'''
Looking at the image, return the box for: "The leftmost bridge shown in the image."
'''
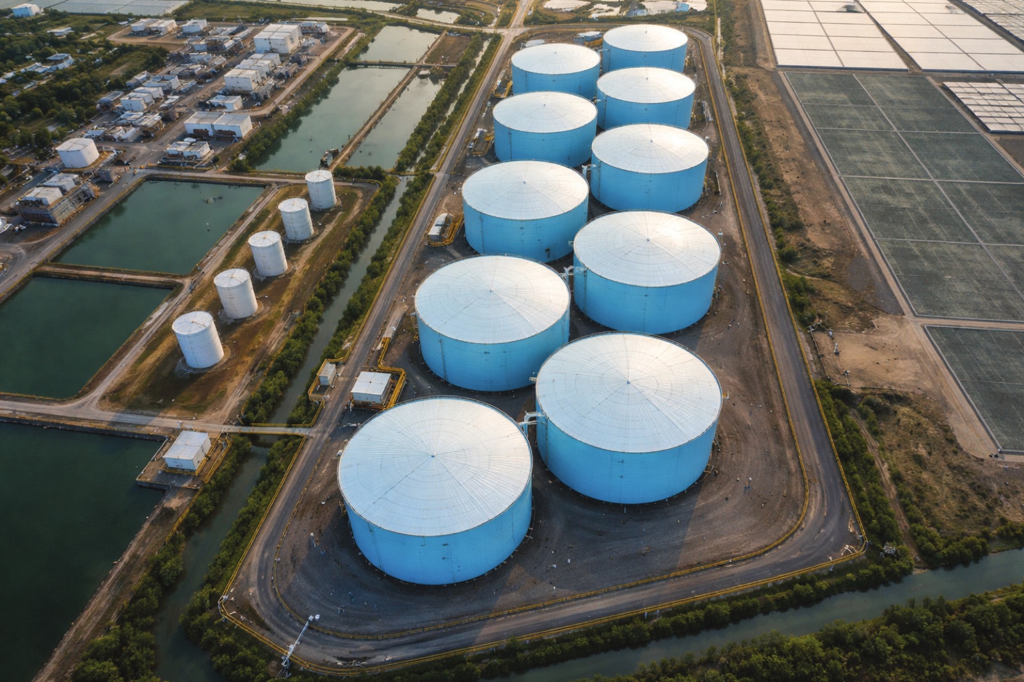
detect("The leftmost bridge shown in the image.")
[237,421,319,443]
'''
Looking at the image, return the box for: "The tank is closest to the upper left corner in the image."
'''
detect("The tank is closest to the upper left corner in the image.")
[52,134,105,169]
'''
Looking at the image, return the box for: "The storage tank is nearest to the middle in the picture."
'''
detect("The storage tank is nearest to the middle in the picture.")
[411,253,571,391]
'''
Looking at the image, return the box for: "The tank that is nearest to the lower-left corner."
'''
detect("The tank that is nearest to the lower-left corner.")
[171,311,228,371]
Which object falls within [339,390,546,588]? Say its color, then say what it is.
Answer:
white storage tank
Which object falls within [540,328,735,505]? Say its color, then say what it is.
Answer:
white storage tank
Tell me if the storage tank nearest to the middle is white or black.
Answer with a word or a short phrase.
white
